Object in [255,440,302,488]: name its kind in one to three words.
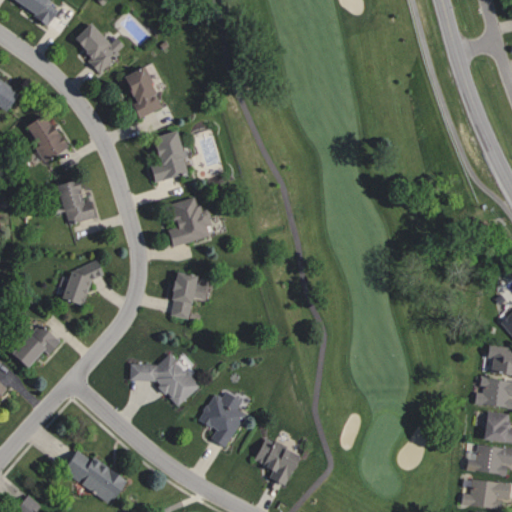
house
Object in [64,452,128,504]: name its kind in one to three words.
house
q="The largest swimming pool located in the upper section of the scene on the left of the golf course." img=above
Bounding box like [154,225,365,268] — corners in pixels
[191,129,223,180]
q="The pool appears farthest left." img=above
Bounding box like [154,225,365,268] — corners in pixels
[115,13,150,46]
